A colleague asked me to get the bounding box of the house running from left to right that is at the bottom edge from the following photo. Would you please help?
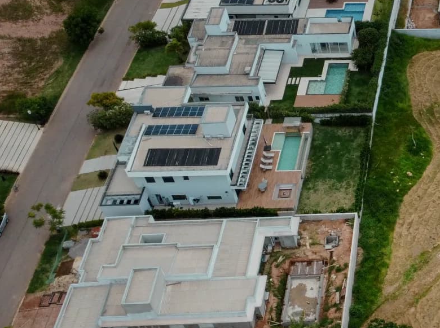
[56,216,304,328]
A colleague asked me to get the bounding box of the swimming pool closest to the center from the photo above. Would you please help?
[272,133,310,171]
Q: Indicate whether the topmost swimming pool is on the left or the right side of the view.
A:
right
